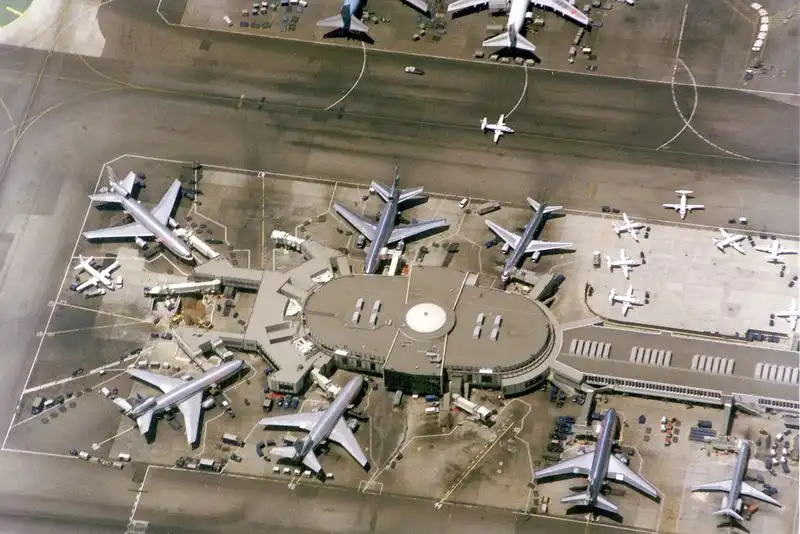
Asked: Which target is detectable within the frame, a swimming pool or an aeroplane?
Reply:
aeroplane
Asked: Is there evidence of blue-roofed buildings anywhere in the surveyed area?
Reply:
No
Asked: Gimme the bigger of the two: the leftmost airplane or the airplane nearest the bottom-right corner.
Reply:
the airplane nearest the bottom-right corner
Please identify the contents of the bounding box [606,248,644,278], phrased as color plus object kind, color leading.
white airplane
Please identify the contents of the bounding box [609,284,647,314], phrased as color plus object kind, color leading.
white airplane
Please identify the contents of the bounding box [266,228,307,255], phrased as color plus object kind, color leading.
white jet bridge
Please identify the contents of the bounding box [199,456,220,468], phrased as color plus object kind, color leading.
white vehicle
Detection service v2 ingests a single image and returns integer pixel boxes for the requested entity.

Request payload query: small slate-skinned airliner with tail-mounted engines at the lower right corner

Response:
[694,445,780,525]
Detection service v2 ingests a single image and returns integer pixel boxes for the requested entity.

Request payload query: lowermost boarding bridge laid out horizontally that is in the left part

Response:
[148,276,224,300]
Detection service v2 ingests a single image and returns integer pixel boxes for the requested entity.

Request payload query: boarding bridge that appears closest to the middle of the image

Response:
[386,249,402,275]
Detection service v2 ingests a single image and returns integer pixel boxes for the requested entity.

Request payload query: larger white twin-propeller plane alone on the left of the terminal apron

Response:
[73,256,121,291]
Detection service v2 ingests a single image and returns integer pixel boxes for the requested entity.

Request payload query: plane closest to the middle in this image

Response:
[335,175,450,276]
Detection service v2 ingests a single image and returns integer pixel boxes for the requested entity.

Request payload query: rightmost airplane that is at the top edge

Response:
[449,0,588,50]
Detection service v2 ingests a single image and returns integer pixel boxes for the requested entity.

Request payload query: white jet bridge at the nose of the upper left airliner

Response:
[173,224,221,260]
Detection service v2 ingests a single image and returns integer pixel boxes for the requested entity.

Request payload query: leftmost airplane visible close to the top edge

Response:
[319,0,370,30]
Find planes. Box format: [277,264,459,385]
[258,380,366,472]
[711,227,747,255]
[606,248,644,278]
[77,166,191,262]
[111,365,242,447]
[754,240,797,265]
[662,186,705,220]
[772,301,800,328]
[609,284,647,314]
[335,175,450,276]
[73,256,121,291]
[319,0,370,30]
[534,413,659,517]
[484,193,574,285]
[694,445,780,525]
[479,112,515,140]
[449,0,588,50]
[609,212,647,241]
